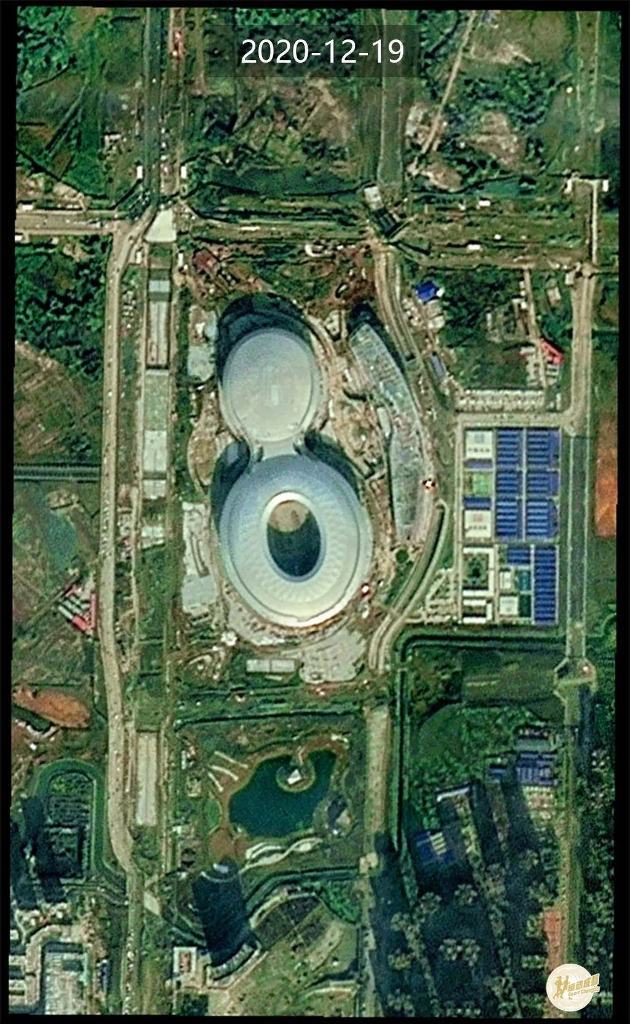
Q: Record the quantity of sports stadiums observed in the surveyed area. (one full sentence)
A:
There are 2 sports stadiums in the image.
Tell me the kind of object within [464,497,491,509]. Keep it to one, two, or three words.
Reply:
shed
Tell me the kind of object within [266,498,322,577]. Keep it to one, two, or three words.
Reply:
sports field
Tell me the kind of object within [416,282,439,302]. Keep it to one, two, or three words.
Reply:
house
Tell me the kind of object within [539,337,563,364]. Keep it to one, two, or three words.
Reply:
building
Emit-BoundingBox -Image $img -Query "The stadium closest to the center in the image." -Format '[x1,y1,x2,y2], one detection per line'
[219,453,374,627]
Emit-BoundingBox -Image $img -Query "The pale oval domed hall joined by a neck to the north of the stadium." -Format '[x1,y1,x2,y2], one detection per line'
[220,307,324,442]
